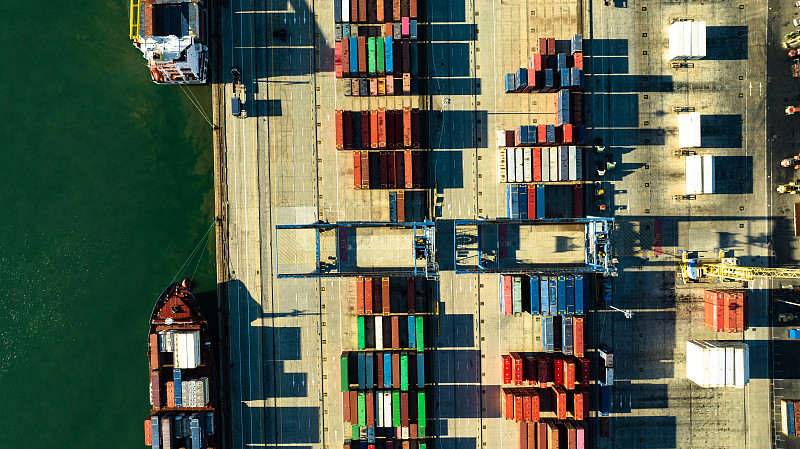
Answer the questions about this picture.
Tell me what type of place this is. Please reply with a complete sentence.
It's a port.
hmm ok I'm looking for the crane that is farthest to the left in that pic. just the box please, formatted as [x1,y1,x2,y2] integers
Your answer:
[277,213,447,284]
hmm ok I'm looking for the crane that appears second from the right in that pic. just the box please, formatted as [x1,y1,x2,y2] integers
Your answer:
[451,210,622,281]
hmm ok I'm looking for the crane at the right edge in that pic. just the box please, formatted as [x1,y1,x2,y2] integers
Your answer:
[677,247,800,285]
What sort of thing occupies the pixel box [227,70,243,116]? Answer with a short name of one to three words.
vehicle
